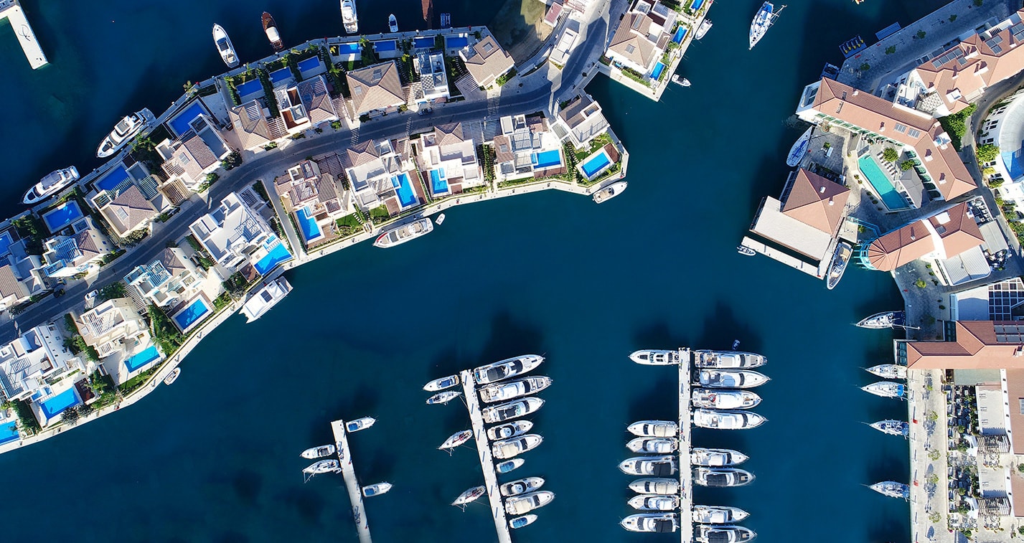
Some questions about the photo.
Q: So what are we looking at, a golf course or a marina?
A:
marina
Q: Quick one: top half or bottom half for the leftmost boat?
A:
top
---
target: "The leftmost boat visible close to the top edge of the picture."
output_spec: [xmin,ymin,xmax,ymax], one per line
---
[211,21,240,70]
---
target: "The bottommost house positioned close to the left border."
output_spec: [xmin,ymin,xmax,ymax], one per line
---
[0,327,90,403]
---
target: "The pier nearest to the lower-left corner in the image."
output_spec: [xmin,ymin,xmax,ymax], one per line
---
[331,419,372,543]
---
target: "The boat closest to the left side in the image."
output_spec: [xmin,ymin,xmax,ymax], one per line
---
[16,165,82,204]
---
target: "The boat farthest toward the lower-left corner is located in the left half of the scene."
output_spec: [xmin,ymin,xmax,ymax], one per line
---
[165,368,185,386]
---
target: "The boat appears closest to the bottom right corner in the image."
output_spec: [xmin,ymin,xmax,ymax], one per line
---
[867,482,912,503]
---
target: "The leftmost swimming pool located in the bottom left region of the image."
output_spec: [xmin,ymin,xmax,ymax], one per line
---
[0,418,23,446]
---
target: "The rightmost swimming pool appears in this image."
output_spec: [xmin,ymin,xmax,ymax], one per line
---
[854,151,913,215]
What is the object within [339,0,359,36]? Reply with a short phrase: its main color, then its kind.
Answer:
white boat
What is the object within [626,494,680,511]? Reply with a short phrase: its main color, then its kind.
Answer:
white boat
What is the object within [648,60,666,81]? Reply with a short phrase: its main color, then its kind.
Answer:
blue swimming pool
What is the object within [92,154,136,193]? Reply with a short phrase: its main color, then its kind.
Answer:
blue swimming pool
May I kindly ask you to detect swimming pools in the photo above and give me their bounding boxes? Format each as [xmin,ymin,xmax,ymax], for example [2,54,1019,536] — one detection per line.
[671,25,689,45]
[854,151,913,215]
[337,40,363,60]
[576,143,620,182]
[267,64,295,88]
[372,38,398,57]
[0,231,18,255]
[531,147,567,177]
[385,169,426,215]
[40,201,85,233]
[412,34,437,52]
[0,418,23,446]
[166,290,215,335]
[31,378,95,422]
[163,96,219,140]
[240,235,296,282]
[691,0,705,12]
[120,343,165,378]
[92,154,136,193]
[444,34,470,56]
[648,60,666,81]
[421,167,463,196]
[293,204,339,247]
[298,52,325,80]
